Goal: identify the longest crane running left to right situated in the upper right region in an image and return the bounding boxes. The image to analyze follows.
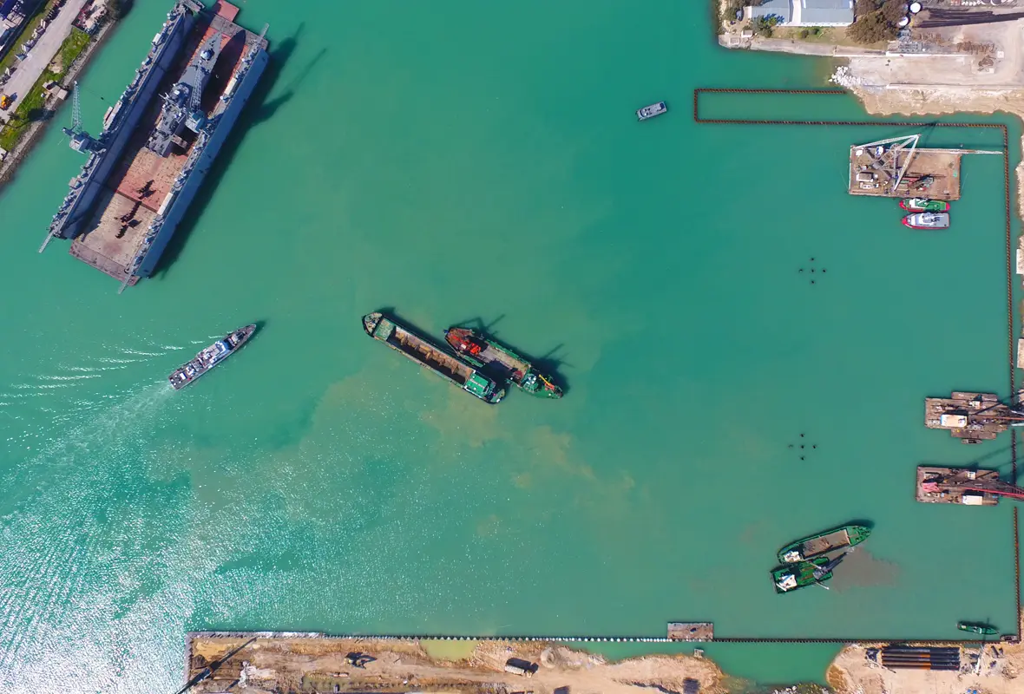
[854,134,1003,190]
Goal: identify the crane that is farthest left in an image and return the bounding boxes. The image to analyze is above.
[68,81,104,162]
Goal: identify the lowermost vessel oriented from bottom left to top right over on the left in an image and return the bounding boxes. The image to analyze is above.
[169,325,259,390]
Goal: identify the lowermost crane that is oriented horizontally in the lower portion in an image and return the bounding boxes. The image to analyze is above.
[921,470,1024,501]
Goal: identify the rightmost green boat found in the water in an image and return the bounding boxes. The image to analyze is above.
[956,621,999,635]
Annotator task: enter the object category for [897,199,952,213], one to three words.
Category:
boat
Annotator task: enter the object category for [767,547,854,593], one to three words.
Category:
ship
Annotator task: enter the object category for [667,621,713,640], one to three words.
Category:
pier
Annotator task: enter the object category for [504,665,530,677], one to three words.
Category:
vehicle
